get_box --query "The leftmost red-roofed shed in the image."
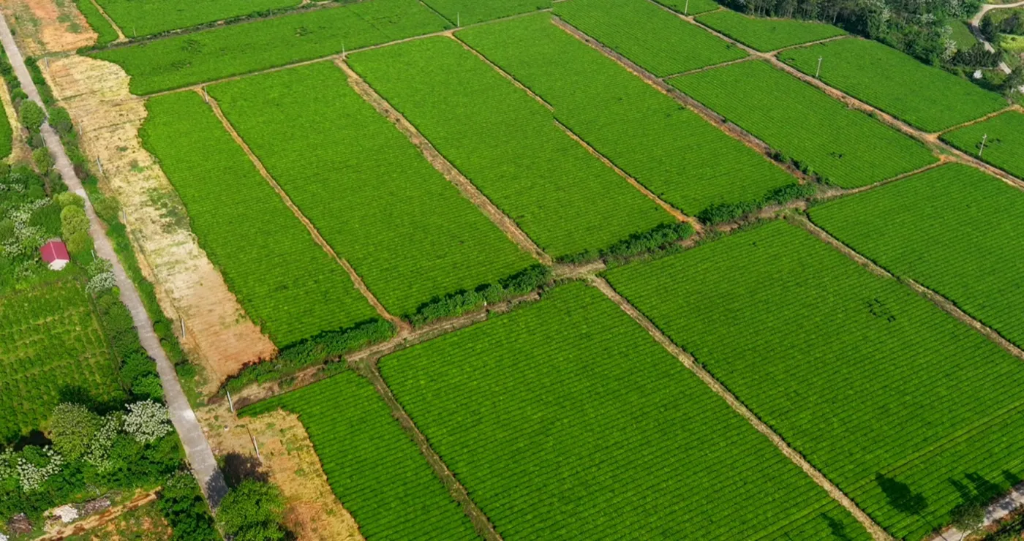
[39,240,70,272]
